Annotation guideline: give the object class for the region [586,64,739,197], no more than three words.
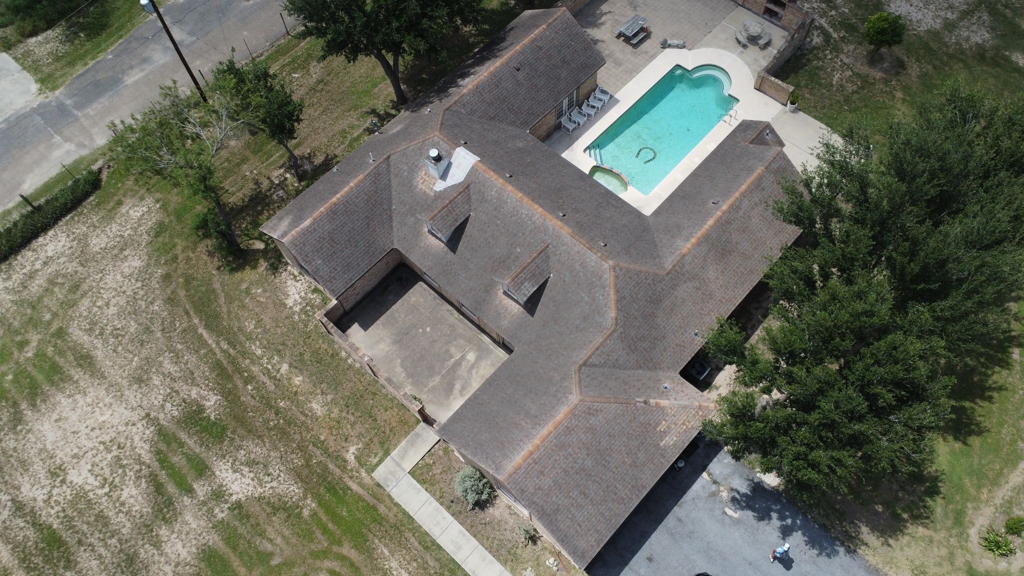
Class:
swimming pool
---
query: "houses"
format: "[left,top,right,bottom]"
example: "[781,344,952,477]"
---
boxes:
[260,6,817,571]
